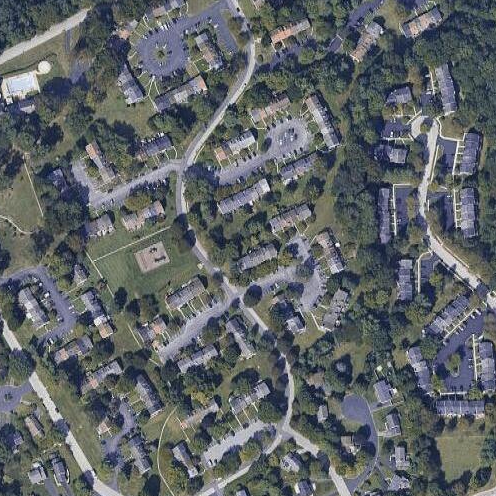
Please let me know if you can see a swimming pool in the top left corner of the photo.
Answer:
Yes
